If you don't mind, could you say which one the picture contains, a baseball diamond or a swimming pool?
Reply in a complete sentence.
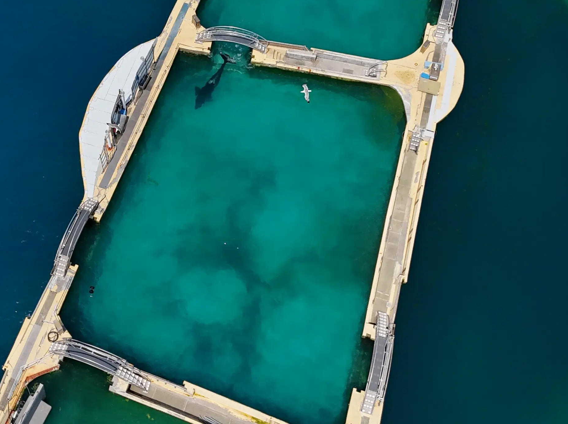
The one in the frame is a swimming pool.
